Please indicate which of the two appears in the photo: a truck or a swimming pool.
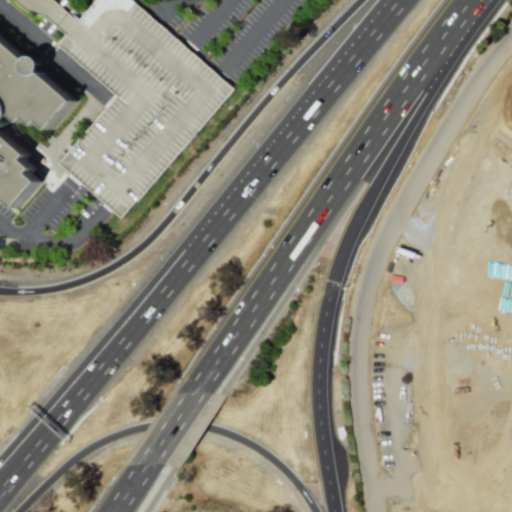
truck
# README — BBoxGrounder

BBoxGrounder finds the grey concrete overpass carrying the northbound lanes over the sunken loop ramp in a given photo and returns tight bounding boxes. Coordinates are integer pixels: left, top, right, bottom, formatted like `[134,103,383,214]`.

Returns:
[123,394,230,468]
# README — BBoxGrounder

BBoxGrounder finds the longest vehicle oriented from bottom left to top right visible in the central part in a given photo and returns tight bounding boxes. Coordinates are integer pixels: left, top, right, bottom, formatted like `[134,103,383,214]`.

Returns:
[289,217,321,258]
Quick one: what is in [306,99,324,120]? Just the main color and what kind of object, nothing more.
white vehicle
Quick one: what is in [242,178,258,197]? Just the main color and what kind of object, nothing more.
white vehicle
